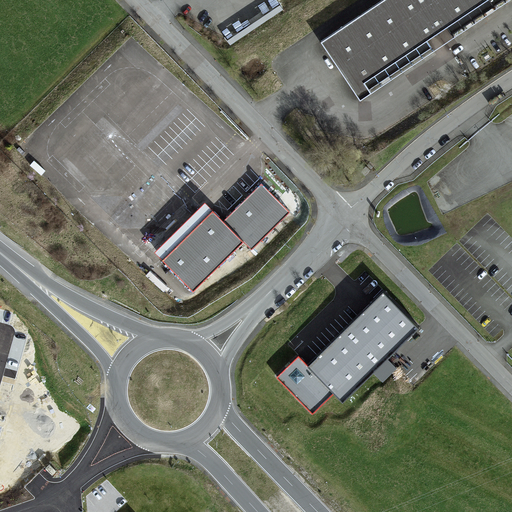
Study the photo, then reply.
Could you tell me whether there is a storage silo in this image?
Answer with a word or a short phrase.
No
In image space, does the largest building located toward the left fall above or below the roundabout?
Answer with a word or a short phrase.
above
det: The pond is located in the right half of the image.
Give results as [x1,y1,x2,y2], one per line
[382,184,446,246]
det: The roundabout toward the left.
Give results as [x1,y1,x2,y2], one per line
[107,328,232,452]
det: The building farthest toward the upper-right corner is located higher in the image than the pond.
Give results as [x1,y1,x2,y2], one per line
[322,0,511,101]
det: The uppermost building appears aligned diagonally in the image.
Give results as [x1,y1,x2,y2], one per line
[224,0,283,46]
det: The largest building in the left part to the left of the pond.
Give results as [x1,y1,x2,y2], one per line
[154,204,243,292]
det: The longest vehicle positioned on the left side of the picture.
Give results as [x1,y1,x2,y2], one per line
[147,271,168,292]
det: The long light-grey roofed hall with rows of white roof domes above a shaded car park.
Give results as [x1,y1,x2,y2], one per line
[308,294,417,403]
